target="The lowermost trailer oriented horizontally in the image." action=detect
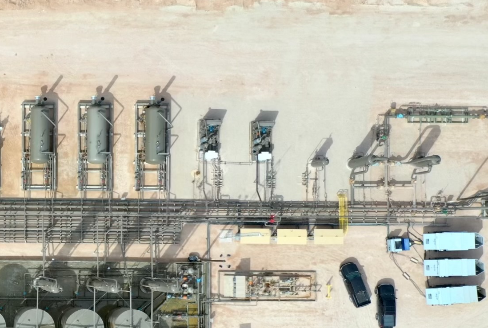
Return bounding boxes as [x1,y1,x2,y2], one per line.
[427,285,487,305]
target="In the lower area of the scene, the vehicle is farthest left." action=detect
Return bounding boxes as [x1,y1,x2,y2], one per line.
[339,262,371,307]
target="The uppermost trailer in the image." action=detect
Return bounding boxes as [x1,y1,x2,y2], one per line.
[425,232,483,251]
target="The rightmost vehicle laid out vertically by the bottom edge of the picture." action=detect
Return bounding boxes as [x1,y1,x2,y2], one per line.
[375,281,396,328]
